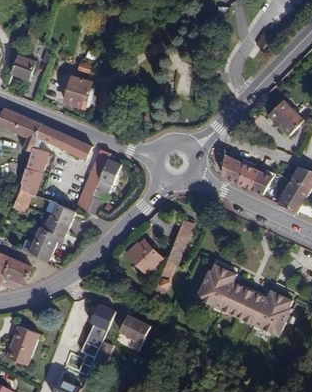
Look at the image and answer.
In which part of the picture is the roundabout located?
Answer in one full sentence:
Look in the center portion of the view to spot the roundabout.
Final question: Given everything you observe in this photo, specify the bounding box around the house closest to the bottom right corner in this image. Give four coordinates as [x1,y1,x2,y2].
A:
[200,266,294,338]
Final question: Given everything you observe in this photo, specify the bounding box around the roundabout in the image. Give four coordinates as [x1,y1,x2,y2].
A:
[111,120,232,212]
